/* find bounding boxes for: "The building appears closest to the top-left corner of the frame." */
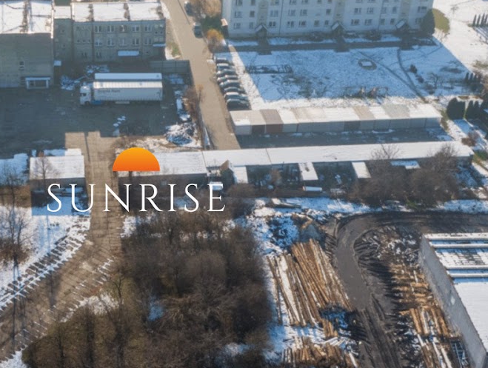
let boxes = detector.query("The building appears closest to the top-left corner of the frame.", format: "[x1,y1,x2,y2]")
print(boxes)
[0,0,165,90]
